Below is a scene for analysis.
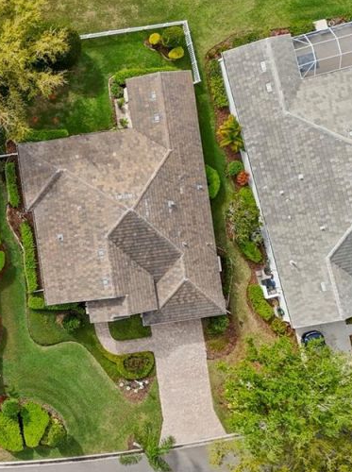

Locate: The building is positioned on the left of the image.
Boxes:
[18,70,227,326]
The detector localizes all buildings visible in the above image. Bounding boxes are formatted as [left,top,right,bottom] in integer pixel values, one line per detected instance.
[214,35,352,329]
[18,70,227,326]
